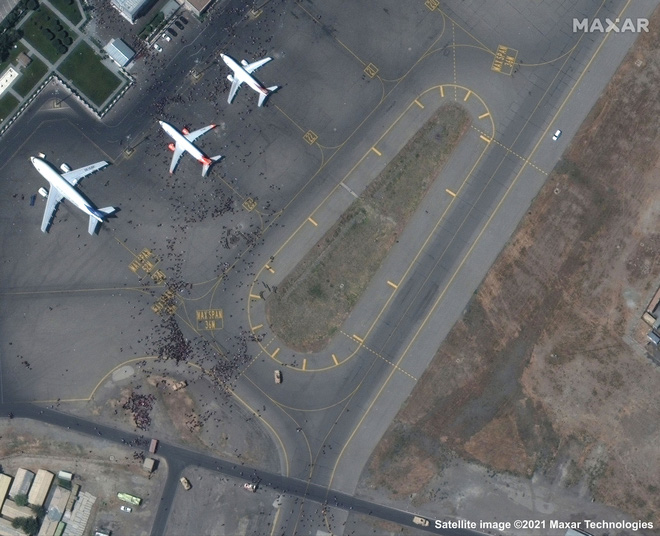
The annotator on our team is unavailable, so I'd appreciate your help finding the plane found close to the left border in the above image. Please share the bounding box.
[32,157,114,233]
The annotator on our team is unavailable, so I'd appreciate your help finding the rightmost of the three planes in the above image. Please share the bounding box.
[220,54,278,106]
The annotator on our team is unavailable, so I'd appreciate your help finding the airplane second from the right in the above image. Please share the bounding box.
[159,120,222,173]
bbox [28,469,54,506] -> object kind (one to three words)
shed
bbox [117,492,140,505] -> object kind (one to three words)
vehicle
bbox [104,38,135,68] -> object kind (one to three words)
building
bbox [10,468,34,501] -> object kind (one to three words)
shed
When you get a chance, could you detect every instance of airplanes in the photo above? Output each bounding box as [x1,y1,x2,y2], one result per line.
[32,157,114,233]
[220,54,278,106]
[159,120,222,173]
